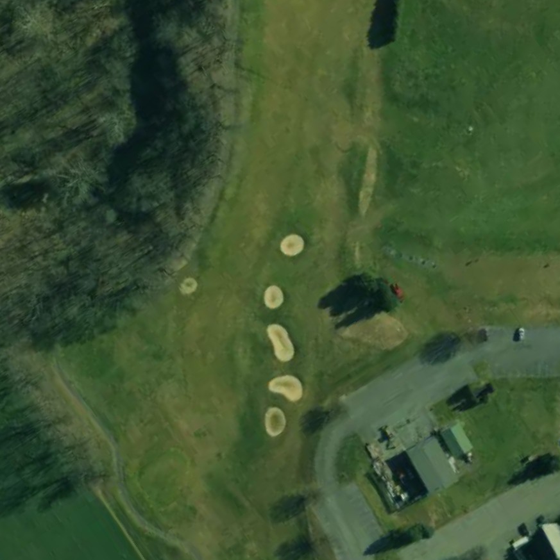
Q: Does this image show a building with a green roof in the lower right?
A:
Yes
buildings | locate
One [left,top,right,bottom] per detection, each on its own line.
[407,436,457,494]
[441,425,472,459]
[512,518,560,560]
